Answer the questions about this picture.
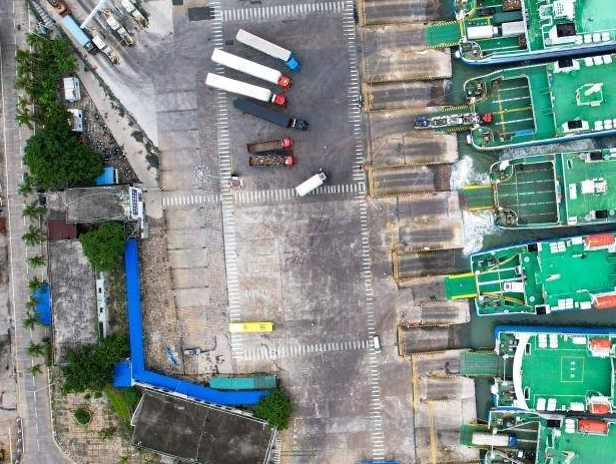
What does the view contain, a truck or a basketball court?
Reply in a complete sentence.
Looking from above, you can make out a truck.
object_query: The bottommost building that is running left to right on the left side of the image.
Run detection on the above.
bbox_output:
[131,386,282,464]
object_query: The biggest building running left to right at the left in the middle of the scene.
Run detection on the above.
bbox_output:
[64,185,144,223]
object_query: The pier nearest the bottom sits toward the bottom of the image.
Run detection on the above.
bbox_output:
[401,349,481,464]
